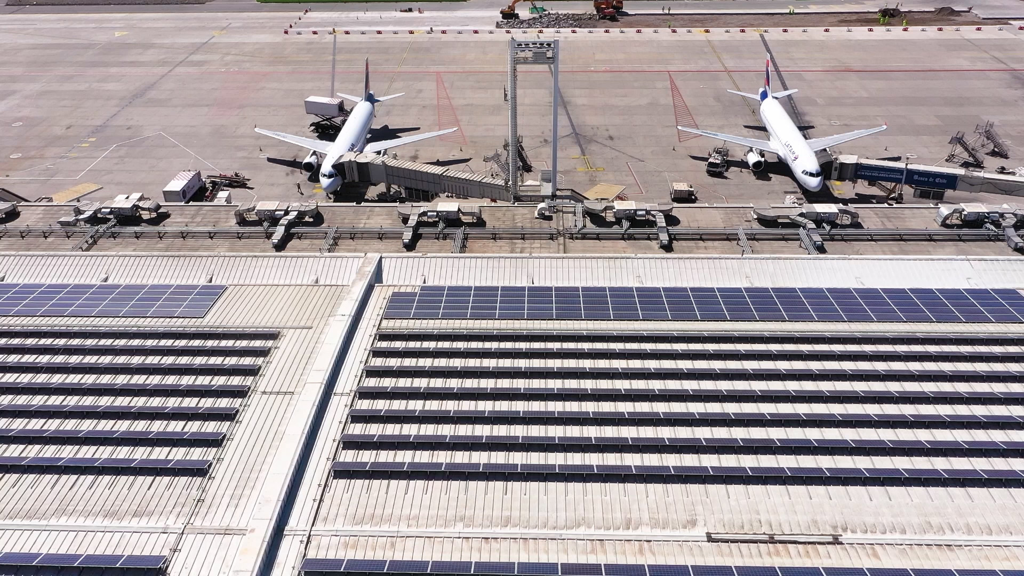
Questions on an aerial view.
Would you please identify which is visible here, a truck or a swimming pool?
truck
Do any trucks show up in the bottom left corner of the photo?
No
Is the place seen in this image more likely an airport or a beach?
airport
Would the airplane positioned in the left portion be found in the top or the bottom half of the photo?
top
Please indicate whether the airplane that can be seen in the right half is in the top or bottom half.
top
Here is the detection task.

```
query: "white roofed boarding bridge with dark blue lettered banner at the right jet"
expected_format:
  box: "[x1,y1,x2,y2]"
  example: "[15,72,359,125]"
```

[821,152,1024,205]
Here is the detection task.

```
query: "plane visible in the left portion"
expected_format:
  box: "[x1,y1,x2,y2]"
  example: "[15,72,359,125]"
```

[254,59,458,197]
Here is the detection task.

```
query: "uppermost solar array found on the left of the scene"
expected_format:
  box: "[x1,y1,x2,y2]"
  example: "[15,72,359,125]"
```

[0,282,227,315]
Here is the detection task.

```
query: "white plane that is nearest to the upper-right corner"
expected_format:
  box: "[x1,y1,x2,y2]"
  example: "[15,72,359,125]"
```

[677,55,888,195]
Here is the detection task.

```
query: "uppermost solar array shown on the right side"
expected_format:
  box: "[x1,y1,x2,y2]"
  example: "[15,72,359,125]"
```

[383,284,1024,319]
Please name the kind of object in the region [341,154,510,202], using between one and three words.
jet bridge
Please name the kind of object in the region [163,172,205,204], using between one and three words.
truck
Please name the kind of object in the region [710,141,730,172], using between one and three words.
vehicle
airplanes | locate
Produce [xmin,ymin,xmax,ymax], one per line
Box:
[677,55,888,195]
[254,59,458,197]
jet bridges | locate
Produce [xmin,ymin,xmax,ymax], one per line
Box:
[821,152,1024,205]
[341,154,510,202]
